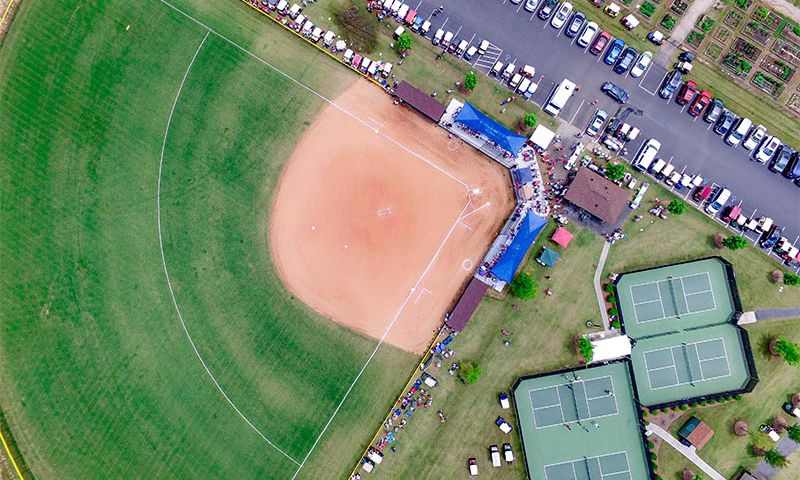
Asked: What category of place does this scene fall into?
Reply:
sports ground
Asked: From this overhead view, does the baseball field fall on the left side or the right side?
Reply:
left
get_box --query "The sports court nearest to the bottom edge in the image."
[530,443,649,480]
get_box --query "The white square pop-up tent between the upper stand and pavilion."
[528,124,555,152]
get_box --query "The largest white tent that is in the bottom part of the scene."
[586,332,631,362]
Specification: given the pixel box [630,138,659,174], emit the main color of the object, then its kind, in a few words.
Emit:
white van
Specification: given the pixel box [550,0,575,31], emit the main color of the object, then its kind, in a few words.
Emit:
white car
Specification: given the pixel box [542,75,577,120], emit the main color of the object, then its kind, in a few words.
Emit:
white vehicle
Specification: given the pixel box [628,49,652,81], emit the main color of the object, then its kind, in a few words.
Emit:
white car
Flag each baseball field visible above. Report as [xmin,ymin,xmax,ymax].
[0,0,516,480]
